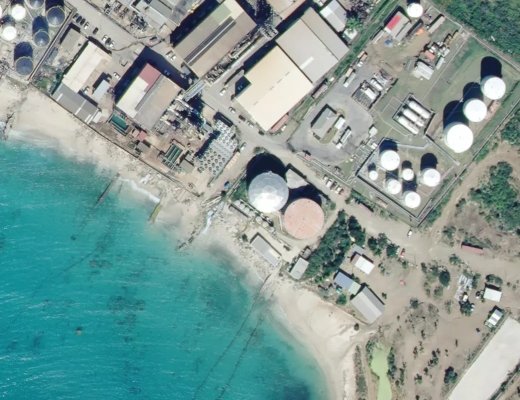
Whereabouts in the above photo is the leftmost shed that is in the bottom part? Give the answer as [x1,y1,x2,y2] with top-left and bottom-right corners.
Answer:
[250,234,282,266]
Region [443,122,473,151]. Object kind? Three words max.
storage tank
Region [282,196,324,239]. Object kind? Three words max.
storage tank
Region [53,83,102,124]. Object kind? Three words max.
shed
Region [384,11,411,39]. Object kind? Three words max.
building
